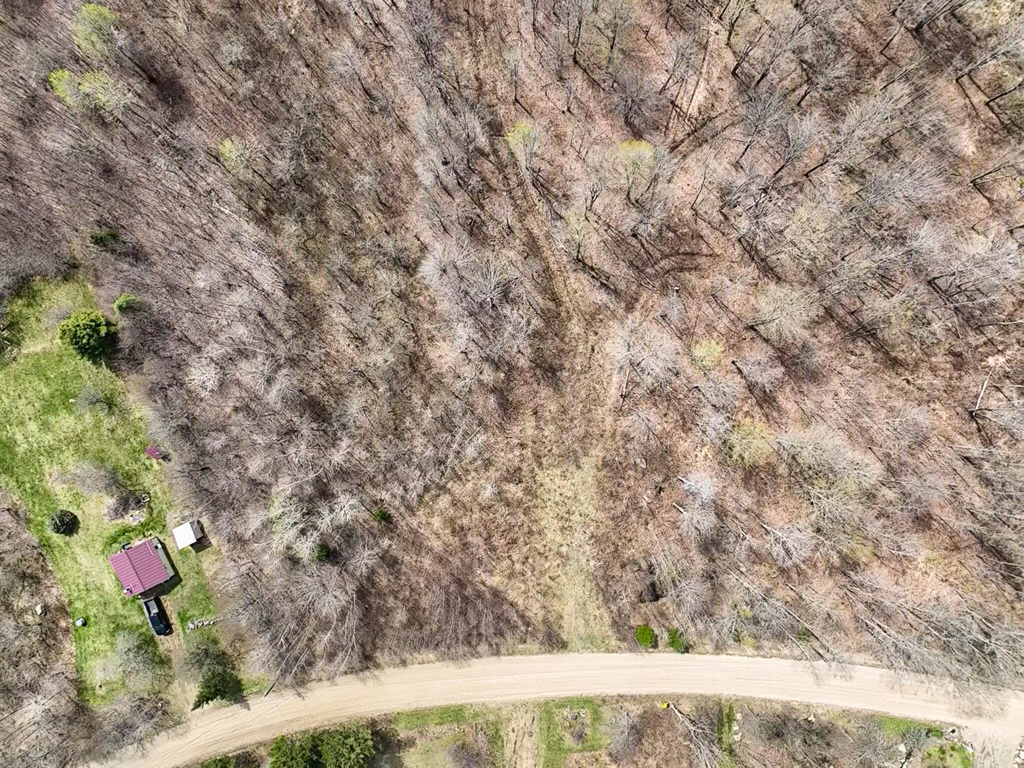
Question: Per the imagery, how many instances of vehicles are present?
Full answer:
My tally gives 1 vehicle in this photo.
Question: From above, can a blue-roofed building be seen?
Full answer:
No, there appears to be no blue-roofed building in this shot.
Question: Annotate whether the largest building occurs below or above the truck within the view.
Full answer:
In the image, the largest building sits above the truck.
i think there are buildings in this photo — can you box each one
[171,520,204,549]
[111,539,174,595]
[146,445,168,461]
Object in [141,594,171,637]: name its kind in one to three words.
truck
